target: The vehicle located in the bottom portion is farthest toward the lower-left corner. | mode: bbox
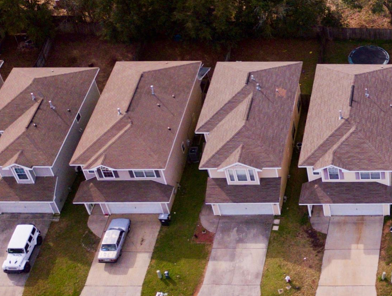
[0,220,41,269]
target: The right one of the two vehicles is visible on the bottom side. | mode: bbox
[93,219,129,265]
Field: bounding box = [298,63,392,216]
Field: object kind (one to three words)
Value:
house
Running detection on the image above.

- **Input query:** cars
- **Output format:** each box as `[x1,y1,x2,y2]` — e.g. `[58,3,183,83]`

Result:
[0,220,41,269]
[93,219,129,265]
